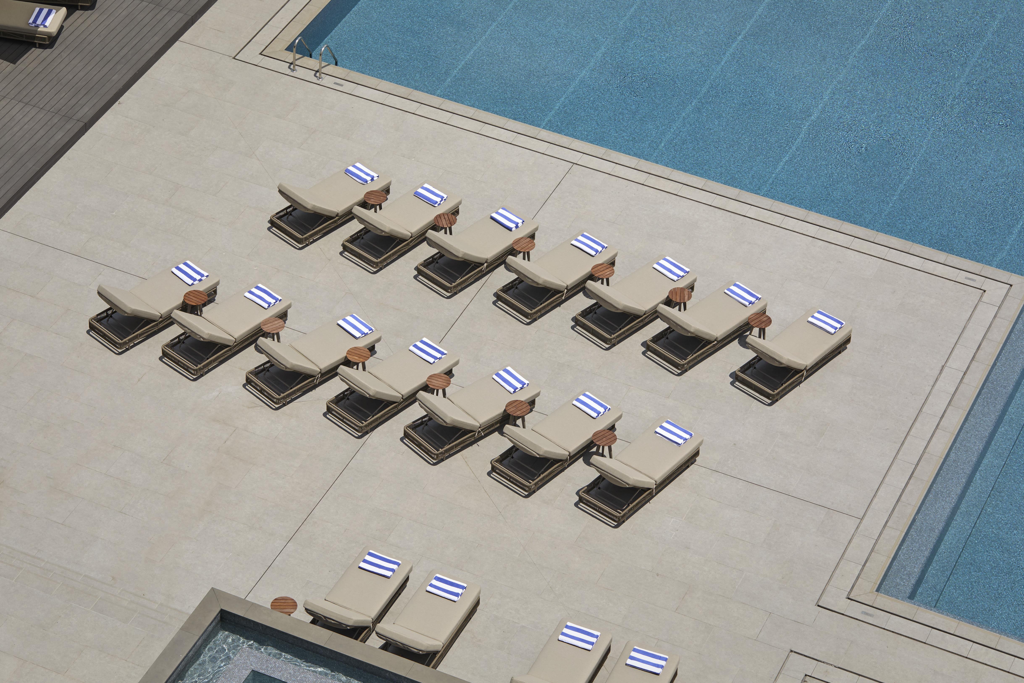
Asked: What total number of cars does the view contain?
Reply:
0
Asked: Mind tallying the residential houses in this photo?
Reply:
none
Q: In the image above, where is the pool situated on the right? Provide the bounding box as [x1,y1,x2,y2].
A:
[285,0,1024,643]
